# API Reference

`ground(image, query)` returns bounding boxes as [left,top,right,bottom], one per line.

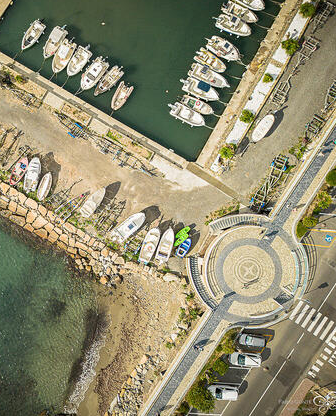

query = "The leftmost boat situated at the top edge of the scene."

[13,16,46,63]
